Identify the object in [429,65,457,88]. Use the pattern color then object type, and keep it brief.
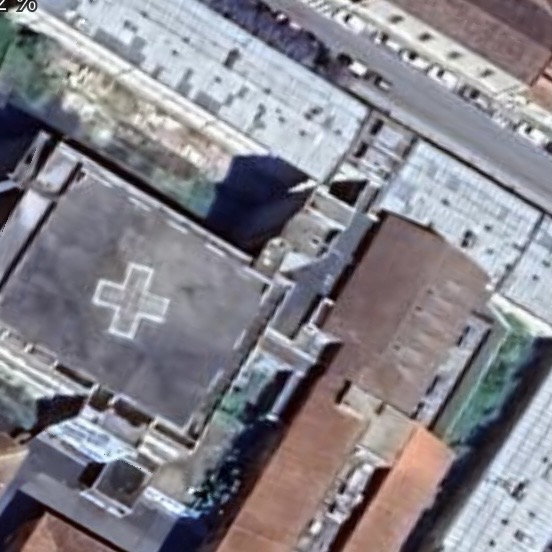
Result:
white car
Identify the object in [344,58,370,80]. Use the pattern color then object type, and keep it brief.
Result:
white vehicle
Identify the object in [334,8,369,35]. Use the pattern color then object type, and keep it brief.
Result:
white vehicle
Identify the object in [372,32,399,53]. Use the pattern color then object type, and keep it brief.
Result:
white car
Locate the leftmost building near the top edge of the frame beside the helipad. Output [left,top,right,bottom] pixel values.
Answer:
[0,0,368,192]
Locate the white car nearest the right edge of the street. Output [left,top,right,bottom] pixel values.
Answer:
[520,120,548,142]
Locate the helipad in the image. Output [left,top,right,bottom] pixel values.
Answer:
[0,159,271,437]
